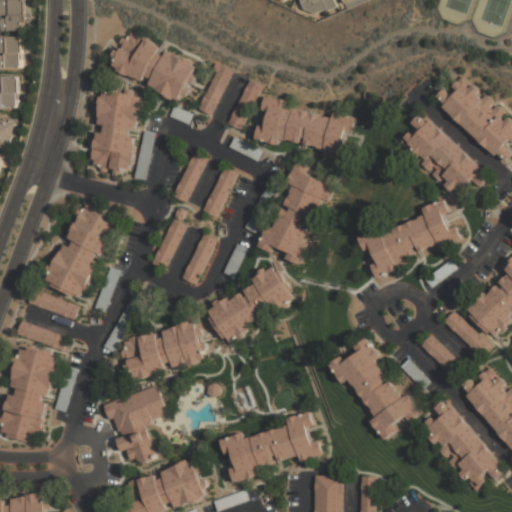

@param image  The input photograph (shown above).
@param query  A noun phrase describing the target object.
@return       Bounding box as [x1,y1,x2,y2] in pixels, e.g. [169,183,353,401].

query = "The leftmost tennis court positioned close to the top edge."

[438,0,476,24]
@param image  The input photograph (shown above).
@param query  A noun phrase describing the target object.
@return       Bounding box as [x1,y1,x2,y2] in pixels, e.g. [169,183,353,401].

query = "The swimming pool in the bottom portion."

[156,382,226,433]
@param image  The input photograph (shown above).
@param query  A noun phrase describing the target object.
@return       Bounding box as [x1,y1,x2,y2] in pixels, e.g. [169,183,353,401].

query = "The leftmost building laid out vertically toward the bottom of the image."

[0,343,60,444]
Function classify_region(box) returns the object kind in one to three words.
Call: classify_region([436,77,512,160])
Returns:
building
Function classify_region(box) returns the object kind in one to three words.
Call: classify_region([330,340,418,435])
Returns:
building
